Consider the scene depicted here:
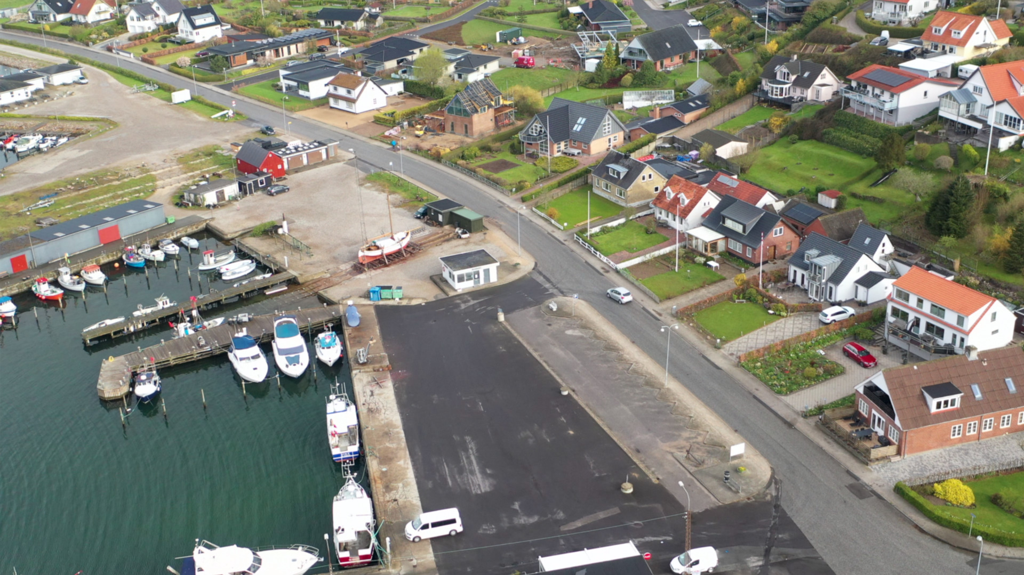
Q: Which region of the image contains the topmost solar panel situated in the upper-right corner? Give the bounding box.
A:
[860,67,912,86]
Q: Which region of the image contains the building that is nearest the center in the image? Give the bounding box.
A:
[438,250,498,287]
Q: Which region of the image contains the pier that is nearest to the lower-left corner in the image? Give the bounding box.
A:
[96,355,133,405]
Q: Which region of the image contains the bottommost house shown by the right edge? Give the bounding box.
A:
[842,341,1024,459]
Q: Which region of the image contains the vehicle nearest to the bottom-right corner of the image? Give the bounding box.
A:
[841,342,881,368]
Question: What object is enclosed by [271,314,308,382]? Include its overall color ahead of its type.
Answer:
white boat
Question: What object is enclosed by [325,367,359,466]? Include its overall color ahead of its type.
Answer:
white ship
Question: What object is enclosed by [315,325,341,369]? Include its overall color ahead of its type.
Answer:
white boat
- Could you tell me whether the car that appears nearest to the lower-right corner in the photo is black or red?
red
